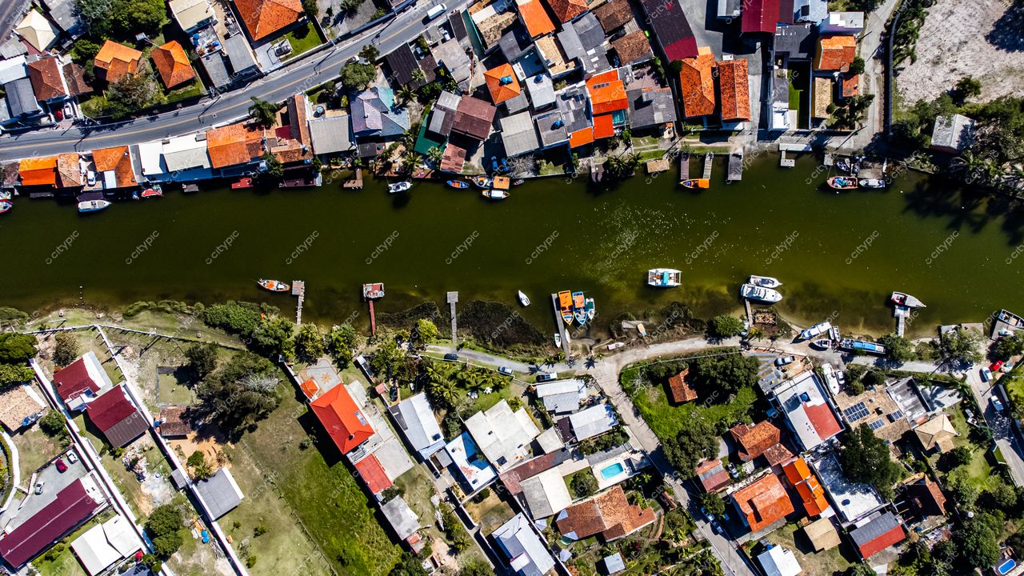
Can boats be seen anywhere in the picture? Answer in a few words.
Yes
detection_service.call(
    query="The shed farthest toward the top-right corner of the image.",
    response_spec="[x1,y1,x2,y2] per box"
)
[925,115,976,152]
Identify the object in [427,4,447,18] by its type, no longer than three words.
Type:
vehicle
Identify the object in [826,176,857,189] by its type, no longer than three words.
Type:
boat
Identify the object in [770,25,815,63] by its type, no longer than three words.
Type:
house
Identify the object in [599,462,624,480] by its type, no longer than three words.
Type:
swimming pool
